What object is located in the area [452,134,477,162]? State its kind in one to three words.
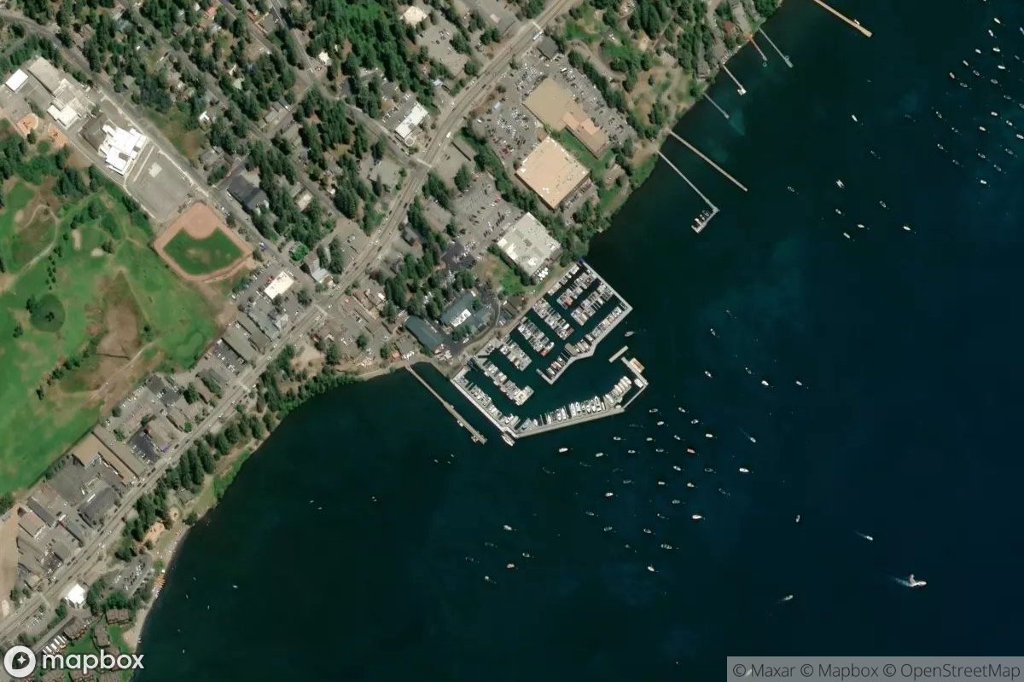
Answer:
building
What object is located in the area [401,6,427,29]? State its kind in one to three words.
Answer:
house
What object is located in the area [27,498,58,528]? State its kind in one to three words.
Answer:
building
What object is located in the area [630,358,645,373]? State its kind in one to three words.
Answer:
ship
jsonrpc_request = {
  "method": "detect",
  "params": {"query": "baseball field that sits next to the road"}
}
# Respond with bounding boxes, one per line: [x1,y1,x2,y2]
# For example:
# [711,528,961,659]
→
[153,198,253,284]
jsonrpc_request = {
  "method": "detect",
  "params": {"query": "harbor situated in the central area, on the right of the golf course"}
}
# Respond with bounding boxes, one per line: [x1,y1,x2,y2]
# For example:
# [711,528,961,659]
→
[450,260,648,440]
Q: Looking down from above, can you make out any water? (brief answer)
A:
Yes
